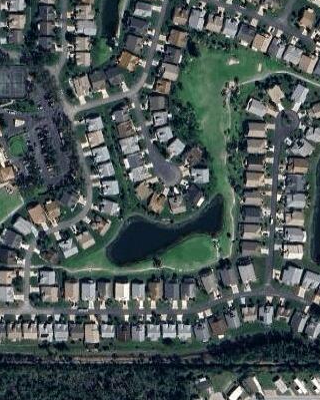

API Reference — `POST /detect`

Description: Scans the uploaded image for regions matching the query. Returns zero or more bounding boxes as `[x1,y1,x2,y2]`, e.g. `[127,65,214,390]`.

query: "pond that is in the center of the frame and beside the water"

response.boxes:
[106,195,221,266]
